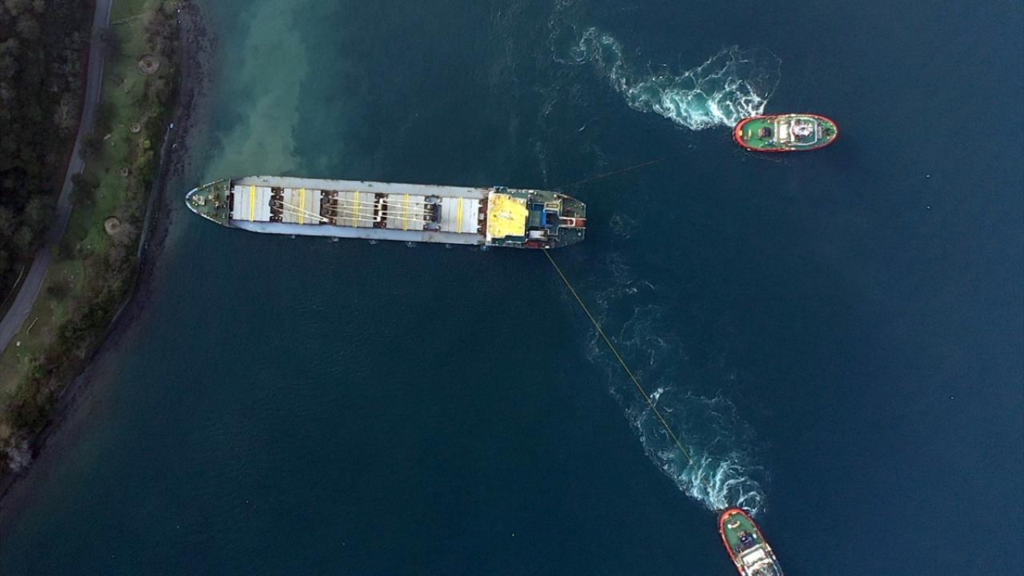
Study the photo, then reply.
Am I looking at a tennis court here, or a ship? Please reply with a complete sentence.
The image shows a ship.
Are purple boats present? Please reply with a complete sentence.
No, I find no purple boat anywhere in the image.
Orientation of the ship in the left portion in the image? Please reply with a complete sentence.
From this overhead view, the ship in the left portion appears to run from left to right.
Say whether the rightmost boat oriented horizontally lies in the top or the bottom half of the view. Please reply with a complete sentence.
The rightmost boat oriented horizontally is in the top half of the image.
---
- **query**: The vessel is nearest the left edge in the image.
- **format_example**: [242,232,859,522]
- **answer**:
[186,176,586,250]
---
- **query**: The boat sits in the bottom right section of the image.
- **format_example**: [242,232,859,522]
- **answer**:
[718,504,779,576]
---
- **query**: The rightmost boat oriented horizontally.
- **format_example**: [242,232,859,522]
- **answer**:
[731,113,841,153]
